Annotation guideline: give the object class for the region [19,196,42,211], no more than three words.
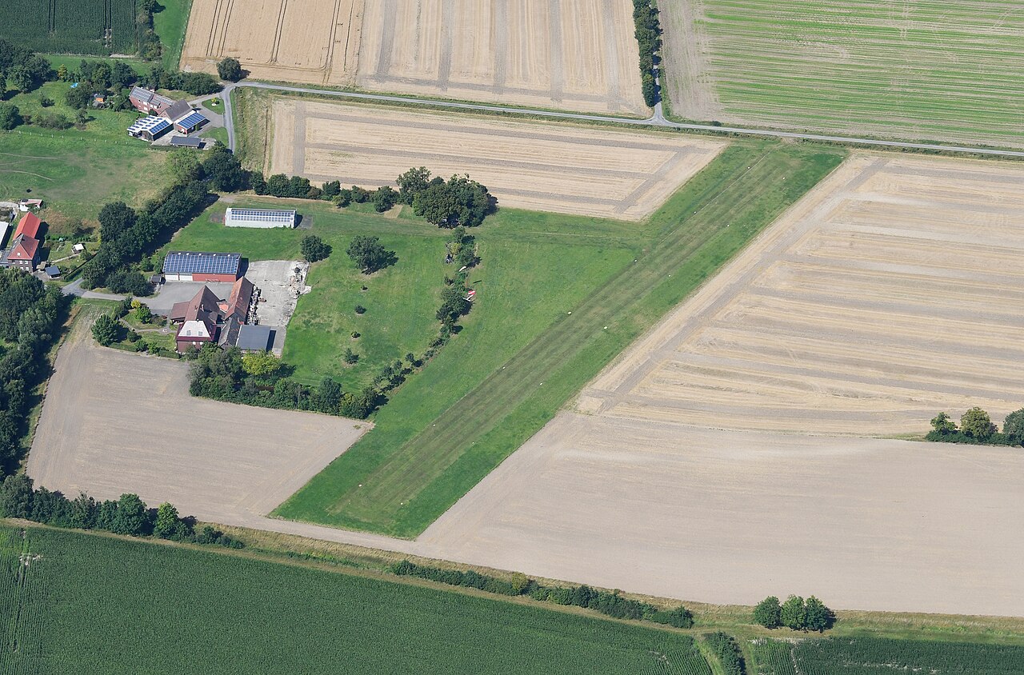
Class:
building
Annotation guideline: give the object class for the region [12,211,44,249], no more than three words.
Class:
barn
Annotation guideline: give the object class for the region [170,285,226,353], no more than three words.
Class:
house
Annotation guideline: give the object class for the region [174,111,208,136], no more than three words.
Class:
barn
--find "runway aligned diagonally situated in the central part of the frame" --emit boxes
[271,142,848,539]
